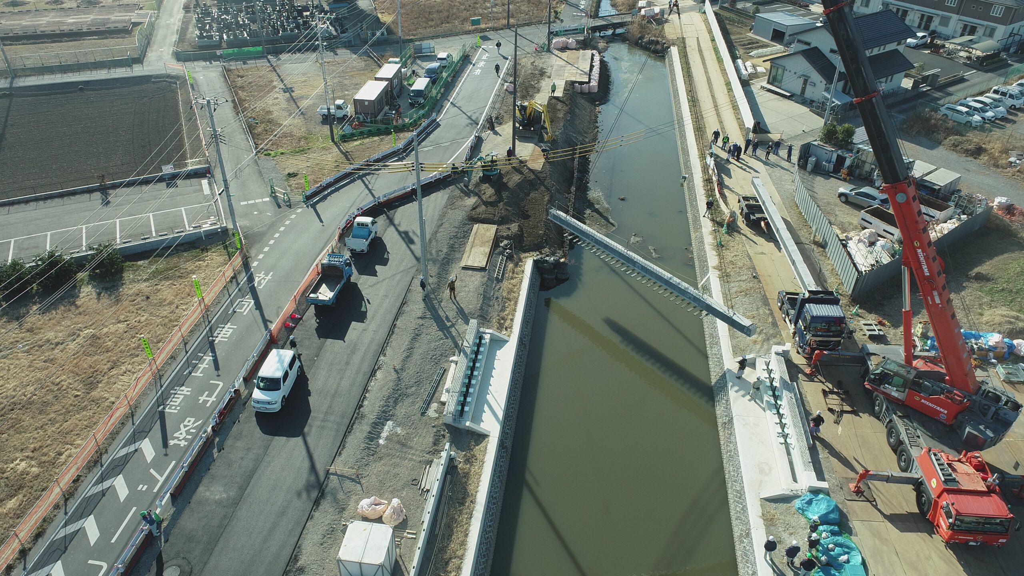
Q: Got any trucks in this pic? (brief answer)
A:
Yes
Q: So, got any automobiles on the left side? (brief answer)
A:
Yes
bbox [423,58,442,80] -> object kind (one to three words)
car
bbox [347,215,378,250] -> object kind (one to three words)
truck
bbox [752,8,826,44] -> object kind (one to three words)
shed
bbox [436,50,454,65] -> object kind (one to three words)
car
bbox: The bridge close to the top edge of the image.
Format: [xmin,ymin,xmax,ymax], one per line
[591,2,666,35]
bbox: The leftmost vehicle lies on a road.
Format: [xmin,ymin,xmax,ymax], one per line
[250,348,301,409]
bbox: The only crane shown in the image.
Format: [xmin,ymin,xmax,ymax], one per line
[802,0,1024,558]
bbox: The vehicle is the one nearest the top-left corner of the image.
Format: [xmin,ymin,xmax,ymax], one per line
[319,98,354,119]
